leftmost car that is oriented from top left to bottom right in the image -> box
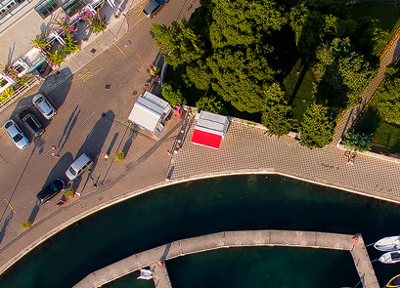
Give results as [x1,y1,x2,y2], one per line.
[2,119,31,151]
